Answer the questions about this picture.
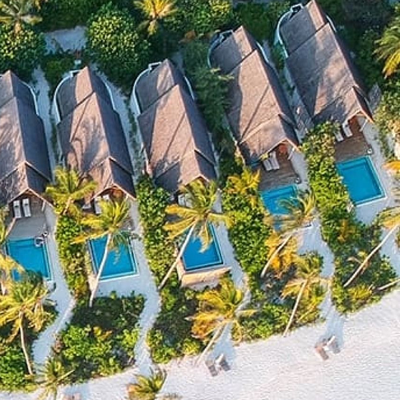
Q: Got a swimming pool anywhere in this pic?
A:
Yes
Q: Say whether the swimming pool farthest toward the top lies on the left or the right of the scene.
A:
right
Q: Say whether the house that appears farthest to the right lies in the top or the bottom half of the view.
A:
top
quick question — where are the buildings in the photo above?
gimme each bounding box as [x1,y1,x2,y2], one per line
[127,58,235,265]
[212,27,320,225]
[48,67,149,276]
[272,0,395,198]
[0,69,62,284]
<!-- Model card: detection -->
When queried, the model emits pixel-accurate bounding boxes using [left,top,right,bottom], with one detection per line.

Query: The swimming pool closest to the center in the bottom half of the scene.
[171,220,232,280]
